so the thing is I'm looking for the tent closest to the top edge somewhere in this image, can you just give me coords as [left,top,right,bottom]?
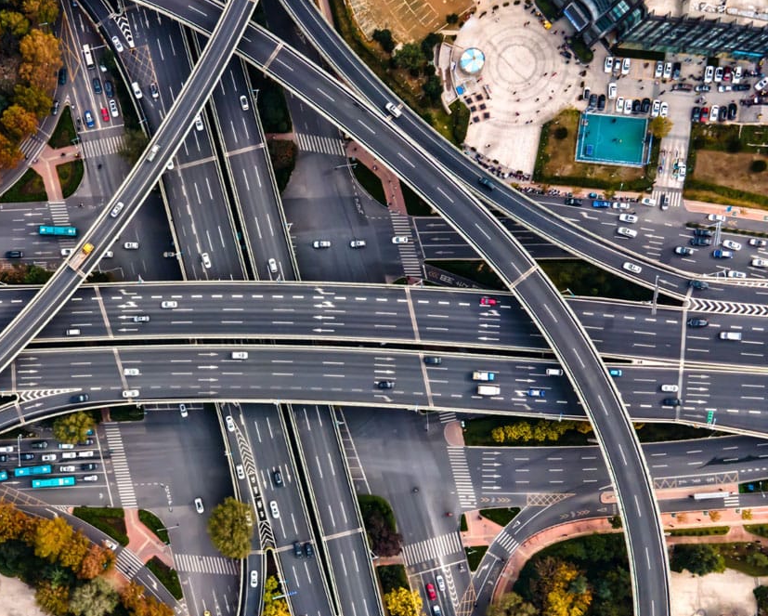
[461,42,491,73]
